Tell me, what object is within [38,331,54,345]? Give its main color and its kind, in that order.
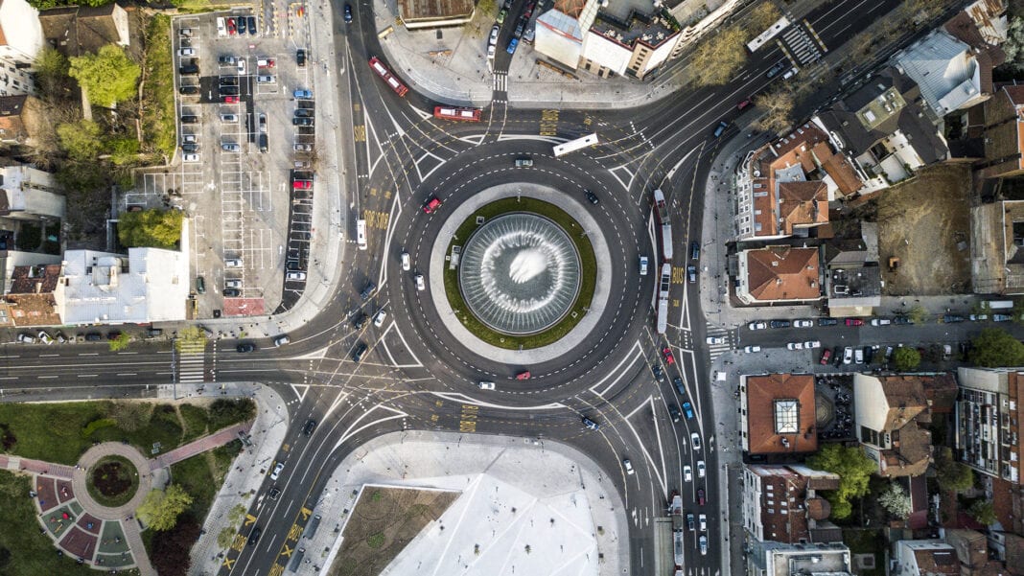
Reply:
white car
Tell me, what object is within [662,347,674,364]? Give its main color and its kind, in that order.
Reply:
red vehicle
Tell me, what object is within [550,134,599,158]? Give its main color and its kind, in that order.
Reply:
white bus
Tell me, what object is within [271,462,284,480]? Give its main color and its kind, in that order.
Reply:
white vehicle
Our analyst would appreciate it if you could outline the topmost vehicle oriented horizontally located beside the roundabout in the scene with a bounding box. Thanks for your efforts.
[433,107,488,121]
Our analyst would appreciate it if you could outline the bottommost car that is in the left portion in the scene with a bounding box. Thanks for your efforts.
[249,527,261,544]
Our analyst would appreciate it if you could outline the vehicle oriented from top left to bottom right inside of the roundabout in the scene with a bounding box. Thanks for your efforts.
[583,189,599,206]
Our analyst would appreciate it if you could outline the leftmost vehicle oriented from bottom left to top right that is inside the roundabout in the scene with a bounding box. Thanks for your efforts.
[422,197,440,212]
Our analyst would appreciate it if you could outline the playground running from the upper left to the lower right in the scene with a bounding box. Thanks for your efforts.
[34,475,135,570]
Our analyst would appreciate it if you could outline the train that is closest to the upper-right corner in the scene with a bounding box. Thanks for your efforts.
[653,189,672,259]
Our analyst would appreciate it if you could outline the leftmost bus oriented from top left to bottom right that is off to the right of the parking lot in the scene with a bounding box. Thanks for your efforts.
[369,56,410,99]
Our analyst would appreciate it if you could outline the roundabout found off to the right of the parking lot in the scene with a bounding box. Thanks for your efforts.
[385,140,655,409]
